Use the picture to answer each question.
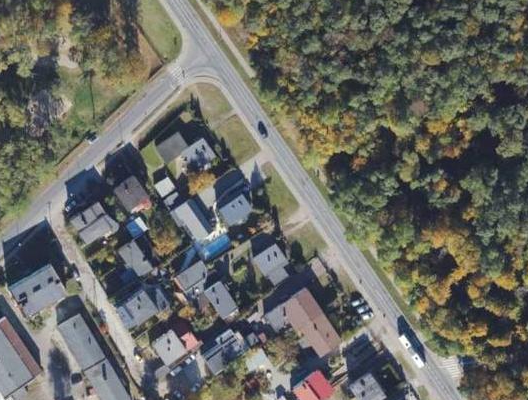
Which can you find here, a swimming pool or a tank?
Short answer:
swimming pool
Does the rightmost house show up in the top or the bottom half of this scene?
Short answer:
bottom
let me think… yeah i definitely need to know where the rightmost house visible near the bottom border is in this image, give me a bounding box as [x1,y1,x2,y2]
[348,374,387,400]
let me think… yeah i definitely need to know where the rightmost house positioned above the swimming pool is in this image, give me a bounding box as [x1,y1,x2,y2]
[219,195,253,227]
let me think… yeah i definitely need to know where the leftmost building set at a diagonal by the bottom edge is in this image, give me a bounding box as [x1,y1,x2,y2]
[59,314,130,400]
